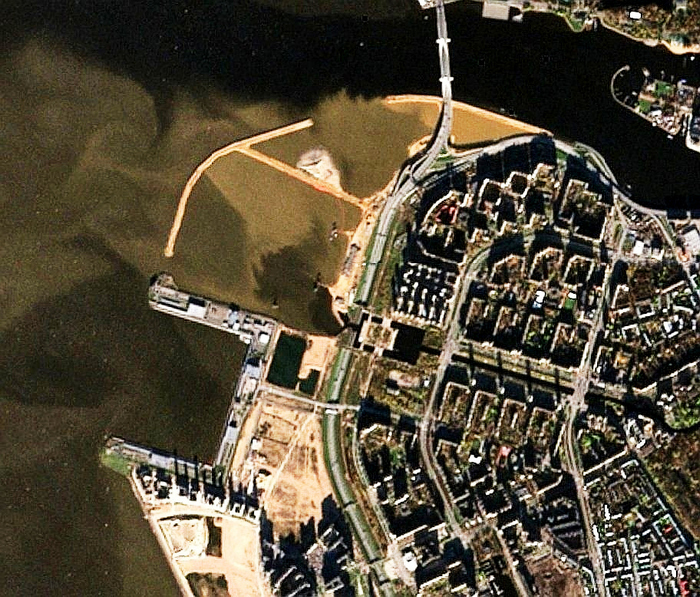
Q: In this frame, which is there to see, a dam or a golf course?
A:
dam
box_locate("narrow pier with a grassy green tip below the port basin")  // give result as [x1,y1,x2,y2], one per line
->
[101,436,216,477]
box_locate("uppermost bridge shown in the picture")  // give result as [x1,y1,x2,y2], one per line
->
[394,0,455,201]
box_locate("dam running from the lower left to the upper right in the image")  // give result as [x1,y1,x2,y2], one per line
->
[166,118,313,256]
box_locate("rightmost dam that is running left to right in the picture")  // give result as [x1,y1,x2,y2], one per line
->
[388,94,549,133]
